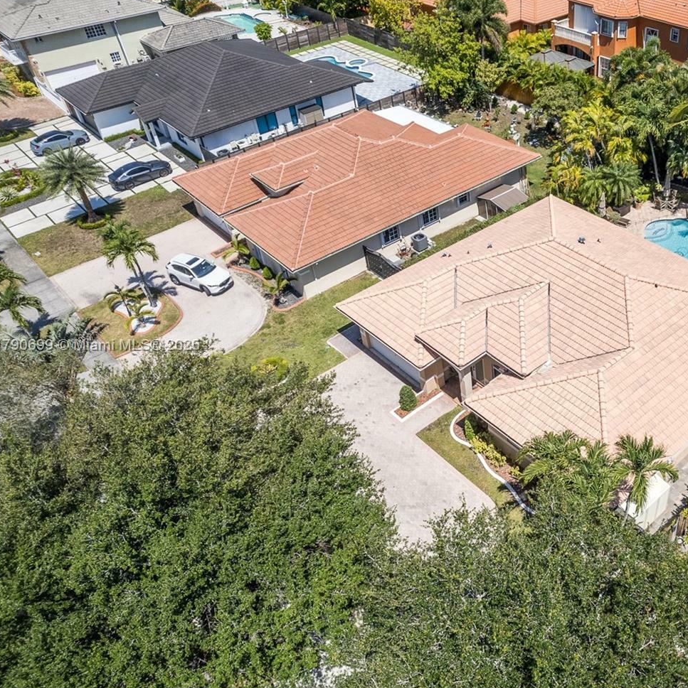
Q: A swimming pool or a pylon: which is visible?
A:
swimming pool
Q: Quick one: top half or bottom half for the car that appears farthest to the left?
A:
top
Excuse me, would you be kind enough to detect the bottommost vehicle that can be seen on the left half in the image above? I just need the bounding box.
[160,250,236,297]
